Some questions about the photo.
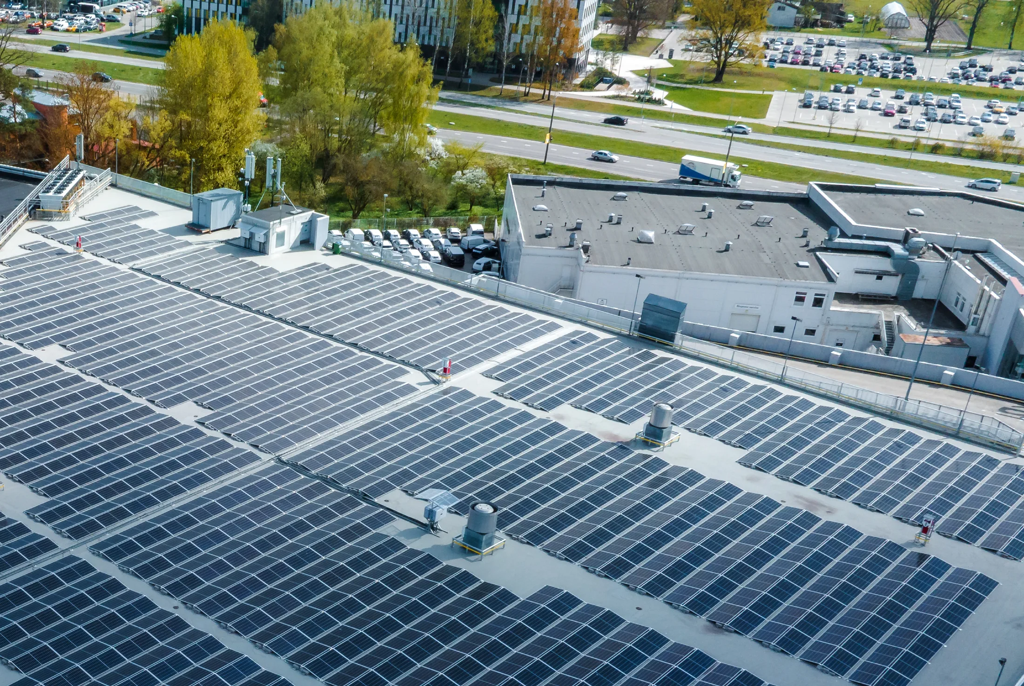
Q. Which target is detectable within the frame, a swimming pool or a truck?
truck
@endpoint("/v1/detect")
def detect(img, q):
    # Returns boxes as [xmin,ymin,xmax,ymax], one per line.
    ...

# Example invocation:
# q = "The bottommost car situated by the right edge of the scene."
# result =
[966,178,1003,192]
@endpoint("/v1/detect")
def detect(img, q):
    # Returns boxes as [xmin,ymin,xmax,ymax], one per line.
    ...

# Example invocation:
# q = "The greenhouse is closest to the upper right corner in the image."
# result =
[881,0,910,28]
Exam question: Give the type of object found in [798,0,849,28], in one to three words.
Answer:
barn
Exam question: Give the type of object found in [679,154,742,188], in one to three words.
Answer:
truck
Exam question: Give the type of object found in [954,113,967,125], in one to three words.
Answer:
vehicle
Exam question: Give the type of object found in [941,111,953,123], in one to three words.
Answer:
vehicle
